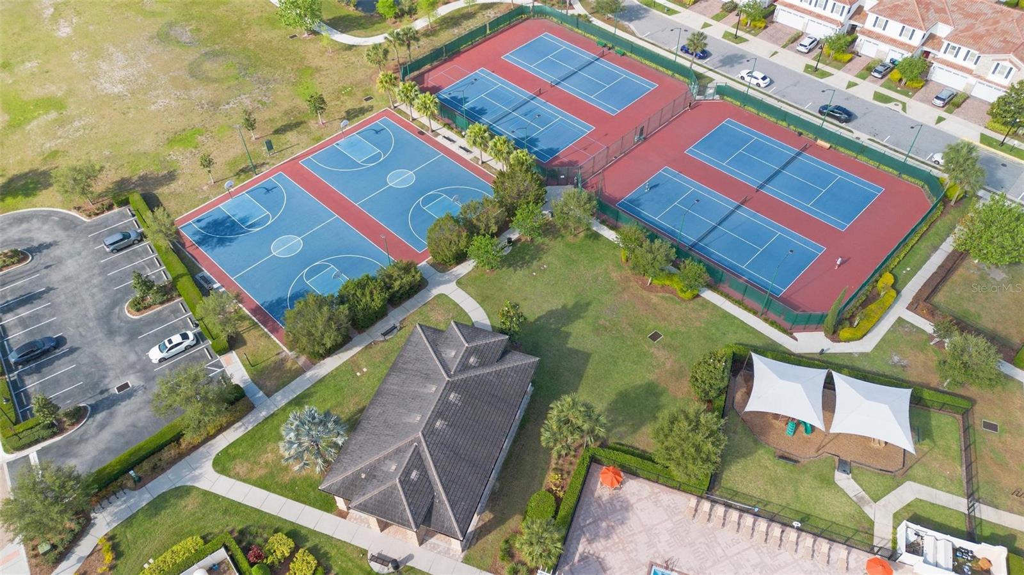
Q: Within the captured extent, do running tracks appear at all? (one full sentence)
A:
No, I can't see a single running track in this photo.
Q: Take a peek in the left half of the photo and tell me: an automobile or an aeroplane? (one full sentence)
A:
Visible in the left half of the photo is an automobile.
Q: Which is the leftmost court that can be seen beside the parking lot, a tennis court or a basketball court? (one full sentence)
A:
In the photo, the leftmost court that can be seen beside the parking lot shows up as a basketball court.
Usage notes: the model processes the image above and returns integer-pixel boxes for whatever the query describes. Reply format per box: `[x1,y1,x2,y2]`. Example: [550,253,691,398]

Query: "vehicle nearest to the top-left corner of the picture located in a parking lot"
[100,226,142,251]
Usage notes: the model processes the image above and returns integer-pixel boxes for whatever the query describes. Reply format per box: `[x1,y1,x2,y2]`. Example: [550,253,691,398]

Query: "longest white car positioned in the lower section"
[147,330,196,363]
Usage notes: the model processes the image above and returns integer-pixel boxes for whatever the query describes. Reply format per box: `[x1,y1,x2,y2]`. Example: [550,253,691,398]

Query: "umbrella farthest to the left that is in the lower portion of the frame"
[599,470,625,495]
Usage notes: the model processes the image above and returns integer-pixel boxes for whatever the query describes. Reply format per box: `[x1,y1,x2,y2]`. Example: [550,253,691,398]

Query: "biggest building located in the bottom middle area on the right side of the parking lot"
[317,322,538,567]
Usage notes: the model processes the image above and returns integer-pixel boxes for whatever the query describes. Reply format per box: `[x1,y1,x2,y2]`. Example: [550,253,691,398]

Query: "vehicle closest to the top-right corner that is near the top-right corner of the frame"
[934,89,954,109]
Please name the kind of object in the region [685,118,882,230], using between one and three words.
tennis court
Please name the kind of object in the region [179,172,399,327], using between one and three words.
basketball court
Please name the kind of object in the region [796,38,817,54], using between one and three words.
car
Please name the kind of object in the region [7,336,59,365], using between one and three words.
car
